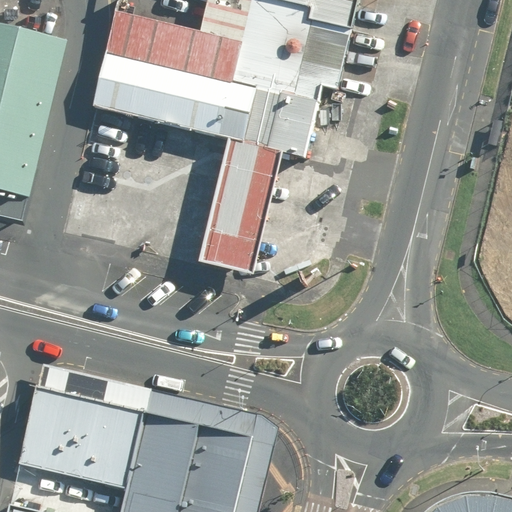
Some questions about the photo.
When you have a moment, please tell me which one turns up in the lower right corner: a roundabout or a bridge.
roundabout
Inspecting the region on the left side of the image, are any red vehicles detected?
Yes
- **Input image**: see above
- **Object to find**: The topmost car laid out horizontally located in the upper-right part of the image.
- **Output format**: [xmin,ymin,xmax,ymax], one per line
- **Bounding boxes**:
[356,10,388,25]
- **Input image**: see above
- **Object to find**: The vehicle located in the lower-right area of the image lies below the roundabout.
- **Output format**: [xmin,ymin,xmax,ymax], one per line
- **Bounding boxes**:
[377,455,403,486]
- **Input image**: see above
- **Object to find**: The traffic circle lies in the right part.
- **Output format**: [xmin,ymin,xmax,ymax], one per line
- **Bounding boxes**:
[336,356,410,430]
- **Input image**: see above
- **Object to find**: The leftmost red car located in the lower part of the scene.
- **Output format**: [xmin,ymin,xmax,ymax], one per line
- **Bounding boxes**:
[32,340,63,358]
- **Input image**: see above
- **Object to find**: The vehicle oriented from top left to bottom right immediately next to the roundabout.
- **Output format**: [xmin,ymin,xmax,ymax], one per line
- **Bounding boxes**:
[390,346,417,370]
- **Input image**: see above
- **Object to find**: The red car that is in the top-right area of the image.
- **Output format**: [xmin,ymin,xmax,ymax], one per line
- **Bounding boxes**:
[404,19,422,52]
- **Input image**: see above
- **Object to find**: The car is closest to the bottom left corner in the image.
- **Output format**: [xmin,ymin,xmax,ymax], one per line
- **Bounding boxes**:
[36,478,65,494]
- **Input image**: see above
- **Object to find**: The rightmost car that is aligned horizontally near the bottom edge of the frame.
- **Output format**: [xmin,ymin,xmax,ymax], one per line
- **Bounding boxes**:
[91,492,120,508]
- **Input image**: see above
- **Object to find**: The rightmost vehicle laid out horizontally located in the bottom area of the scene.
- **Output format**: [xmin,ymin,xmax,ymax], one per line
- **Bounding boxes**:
[315,336,344,351]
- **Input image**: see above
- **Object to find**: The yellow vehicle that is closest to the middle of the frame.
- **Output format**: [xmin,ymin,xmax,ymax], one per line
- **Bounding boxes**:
[268,331,290,344]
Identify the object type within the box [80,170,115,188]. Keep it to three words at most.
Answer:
vehicle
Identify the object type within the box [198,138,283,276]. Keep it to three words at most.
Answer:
building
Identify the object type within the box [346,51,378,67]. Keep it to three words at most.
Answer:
car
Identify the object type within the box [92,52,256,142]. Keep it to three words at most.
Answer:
building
